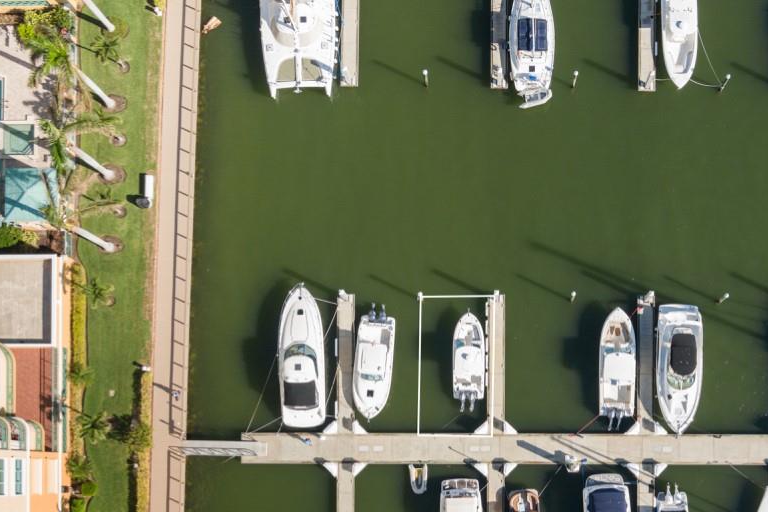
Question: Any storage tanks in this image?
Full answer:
No, there isn't any storage tank down there.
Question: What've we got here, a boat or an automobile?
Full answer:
There is a boat in the scene.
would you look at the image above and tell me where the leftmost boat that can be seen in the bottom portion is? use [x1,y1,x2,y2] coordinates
[280,280,331,429]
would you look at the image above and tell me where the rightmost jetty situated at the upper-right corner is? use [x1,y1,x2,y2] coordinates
[638,0,658,93]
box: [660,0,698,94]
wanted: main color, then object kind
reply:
white boat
